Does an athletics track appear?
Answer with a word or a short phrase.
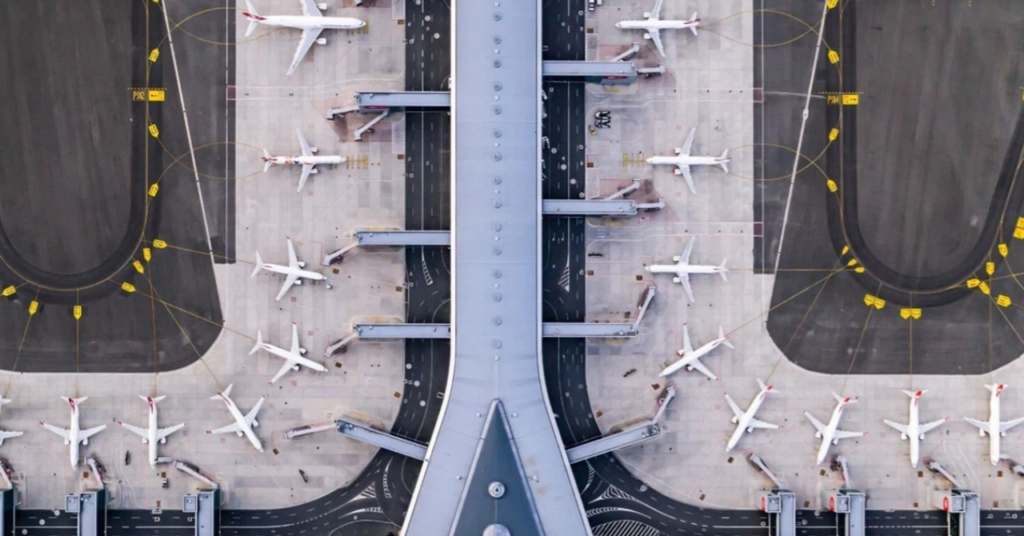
No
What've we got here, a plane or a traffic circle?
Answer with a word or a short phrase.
plane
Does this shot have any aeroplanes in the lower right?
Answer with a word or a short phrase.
Yes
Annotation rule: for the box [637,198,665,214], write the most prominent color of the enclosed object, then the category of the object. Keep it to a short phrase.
white jet bridge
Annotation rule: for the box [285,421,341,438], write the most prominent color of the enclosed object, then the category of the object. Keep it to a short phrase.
white jet bridge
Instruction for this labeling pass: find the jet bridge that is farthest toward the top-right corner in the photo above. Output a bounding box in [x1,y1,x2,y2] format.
[636,63,666,81]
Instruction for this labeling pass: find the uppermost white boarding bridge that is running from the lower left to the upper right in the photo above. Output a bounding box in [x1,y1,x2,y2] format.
[612,42,639,61]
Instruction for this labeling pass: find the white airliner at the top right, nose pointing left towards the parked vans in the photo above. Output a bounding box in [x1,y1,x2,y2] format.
[615,0,699,56]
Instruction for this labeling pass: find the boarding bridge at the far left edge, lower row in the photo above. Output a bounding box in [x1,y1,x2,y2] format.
[0,456,20,489]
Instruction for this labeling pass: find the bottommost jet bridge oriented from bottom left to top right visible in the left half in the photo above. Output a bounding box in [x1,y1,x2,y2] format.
[325,332,356,357]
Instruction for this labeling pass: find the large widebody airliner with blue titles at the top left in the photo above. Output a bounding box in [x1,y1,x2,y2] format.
[241,0,366,75]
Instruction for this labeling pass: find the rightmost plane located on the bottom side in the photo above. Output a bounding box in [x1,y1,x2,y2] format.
[962,382,1024,464]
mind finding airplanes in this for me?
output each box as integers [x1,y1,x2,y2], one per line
[659,326,731,383]
[646,126,731,193]
[210,383,266,451]
[119,396,185,468]
[615,0,699,56]
[645,236,728,302]
[883,394,950,467]
[42,395,108,468]
[962,382,1024,464]
[804,391,866,464]
[262,126,346,193]
[254,325,329,386]
[241,0,366,75]
[724,383,779,450]
[252,237,328,301]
